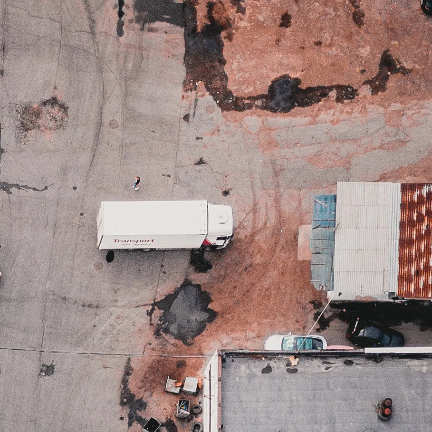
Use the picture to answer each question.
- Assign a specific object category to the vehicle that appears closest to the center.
truck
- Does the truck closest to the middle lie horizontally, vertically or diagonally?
horizontally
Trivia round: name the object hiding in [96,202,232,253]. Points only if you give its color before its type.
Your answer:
white truck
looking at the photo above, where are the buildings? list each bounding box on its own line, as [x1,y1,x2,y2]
[205,346,432,432]
[311,182,401,305]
